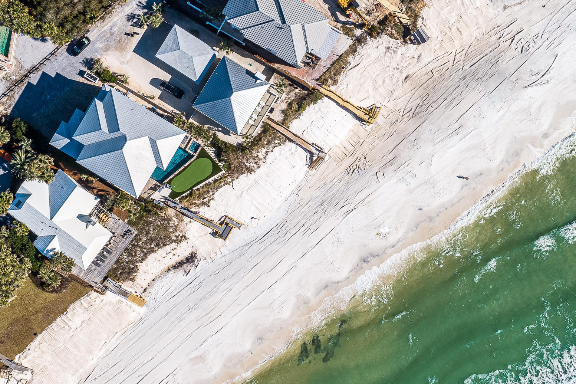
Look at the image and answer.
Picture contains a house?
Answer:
Yes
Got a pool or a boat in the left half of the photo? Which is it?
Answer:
pool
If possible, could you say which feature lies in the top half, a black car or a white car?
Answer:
black car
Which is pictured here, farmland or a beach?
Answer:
beach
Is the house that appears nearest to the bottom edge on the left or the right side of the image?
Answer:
left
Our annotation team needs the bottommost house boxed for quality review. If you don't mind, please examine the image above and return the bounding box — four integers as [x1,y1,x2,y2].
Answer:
[8,170,122,270]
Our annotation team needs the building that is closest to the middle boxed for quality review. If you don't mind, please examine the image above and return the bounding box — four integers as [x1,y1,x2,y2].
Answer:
[192,57,286,135]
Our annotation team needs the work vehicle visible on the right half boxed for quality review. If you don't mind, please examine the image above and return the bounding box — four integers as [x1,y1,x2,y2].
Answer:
[335,0,375,33]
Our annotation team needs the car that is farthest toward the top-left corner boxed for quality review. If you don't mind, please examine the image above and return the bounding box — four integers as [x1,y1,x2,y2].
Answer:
[71,36,91,54]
